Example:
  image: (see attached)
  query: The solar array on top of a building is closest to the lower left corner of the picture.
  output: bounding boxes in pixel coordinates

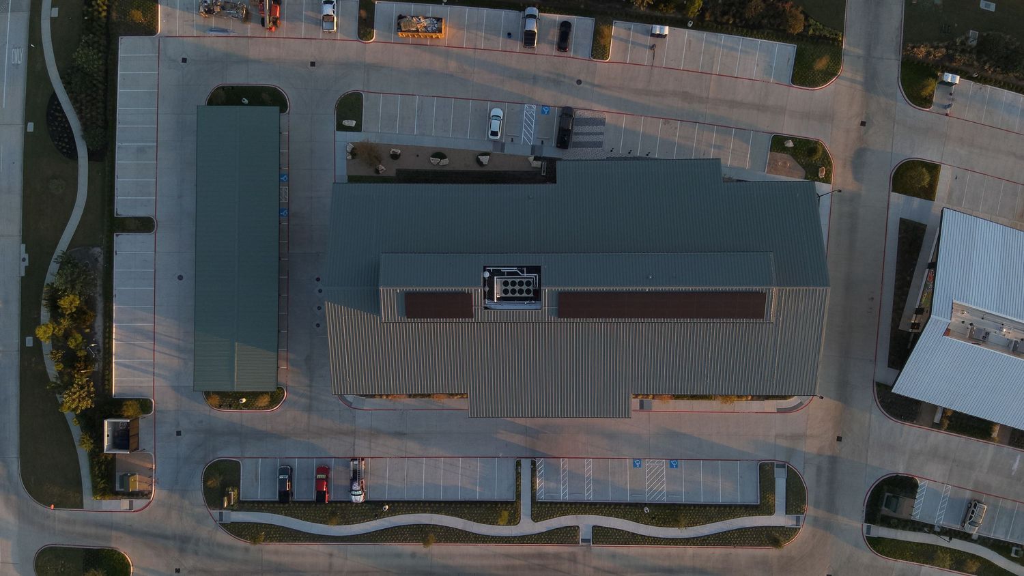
[405,291,473,319]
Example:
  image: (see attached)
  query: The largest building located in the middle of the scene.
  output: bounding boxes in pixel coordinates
[323,158,832,419]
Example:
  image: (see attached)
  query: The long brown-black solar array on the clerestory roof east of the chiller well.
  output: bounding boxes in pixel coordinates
[558,291,766,319]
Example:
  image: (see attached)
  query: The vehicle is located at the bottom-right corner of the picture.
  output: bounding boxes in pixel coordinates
[966,501,991,536]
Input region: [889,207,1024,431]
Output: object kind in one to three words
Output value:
building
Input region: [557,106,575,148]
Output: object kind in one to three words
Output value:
vehicle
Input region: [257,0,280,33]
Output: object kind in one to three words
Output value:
work vehicle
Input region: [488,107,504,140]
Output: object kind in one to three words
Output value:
car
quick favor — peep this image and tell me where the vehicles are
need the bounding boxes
[488,107,504,140]
[273,467,291,506]
[257,0,280,33]
[312,467,329,506]
[319,0,337,30]
[966,501,991,536]
[522,4,539,47]
[557,18,573,51]
[557,106,575,148]
[346,460,365,504]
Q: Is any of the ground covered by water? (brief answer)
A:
No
